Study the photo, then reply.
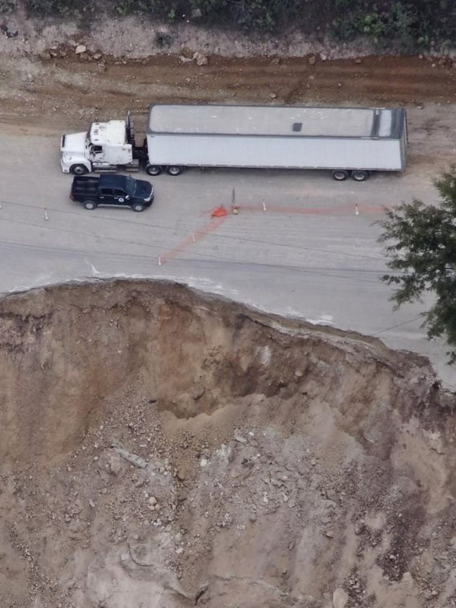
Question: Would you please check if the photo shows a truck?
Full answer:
Yes, there's a truck here.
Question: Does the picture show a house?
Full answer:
No, I can see no house in this picture.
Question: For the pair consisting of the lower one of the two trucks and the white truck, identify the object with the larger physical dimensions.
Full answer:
The white truck takes up more space than the lower one of the two trucks does.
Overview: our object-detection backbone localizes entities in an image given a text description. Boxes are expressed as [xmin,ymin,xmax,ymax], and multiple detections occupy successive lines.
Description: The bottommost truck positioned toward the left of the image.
[69,170,154,211]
